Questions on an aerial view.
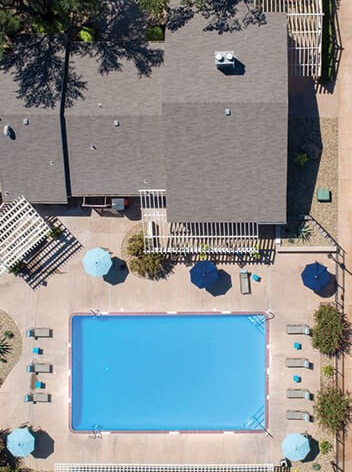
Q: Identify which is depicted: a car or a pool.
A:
pool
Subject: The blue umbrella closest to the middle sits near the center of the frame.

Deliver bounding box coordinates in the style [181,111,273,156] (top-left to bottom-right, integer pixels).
[190,259,218,289]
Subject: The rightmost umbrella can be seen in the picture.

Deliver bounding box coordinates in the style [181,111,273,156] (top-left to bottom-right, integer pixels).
[302,261,332,292]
